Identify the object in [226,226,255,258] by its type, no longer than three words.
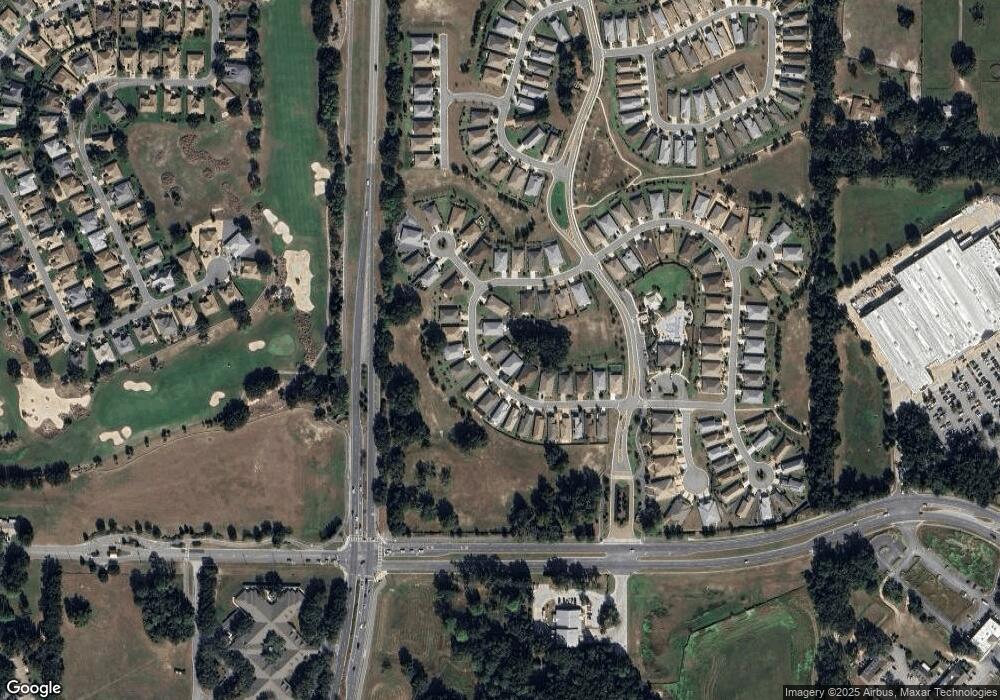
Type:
house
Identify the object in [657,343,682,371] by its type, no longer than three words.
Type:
building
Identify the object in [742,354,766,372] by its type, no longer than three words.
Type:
house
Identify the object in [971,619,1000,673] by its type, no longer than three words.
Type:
building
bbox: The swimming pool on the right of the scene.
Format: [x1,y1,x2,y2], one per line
[656,300,691,345]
